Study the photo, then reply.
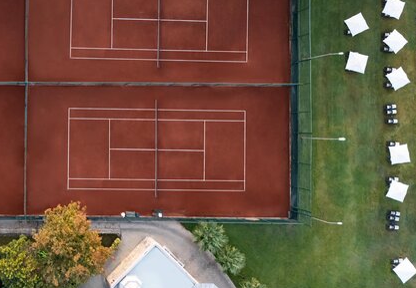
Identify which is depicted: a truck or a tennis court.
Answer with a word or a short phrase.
tennis court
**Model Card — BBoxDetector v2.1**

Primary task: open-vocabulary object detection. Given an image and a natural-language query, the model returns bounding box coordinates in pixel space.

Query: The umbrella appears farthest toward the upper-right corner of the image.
[379,0,404,18]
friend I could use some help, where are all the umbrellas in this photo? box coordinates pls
[344,52,368,73]
[383,66,410,91]
[343,12,368,36]
[379,0,404,18]
[381,29,407,54]
[383,180,409,202]
[385,144,410,165]
[391,258,416,283]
